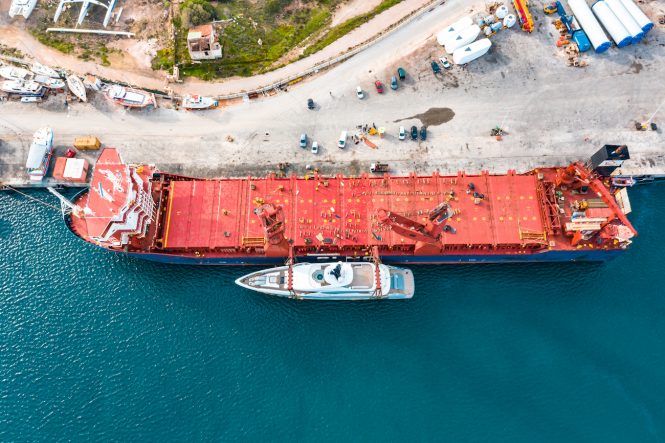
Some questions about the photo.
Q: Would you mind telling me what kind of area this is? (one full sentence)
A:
It's a port.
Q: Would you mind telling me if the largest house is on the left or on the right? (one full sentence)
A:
You can find the largest house on the left side of the picture.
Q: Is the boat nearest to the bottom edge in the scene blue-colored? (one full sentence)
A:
No, the boat nearest to the bottom edge is actually white.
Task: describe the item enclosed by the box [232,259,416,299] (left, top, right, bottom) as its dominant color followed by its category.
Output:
white boat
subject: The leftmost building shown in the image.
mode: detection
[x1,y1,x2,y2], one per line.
[186,27,222,60]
